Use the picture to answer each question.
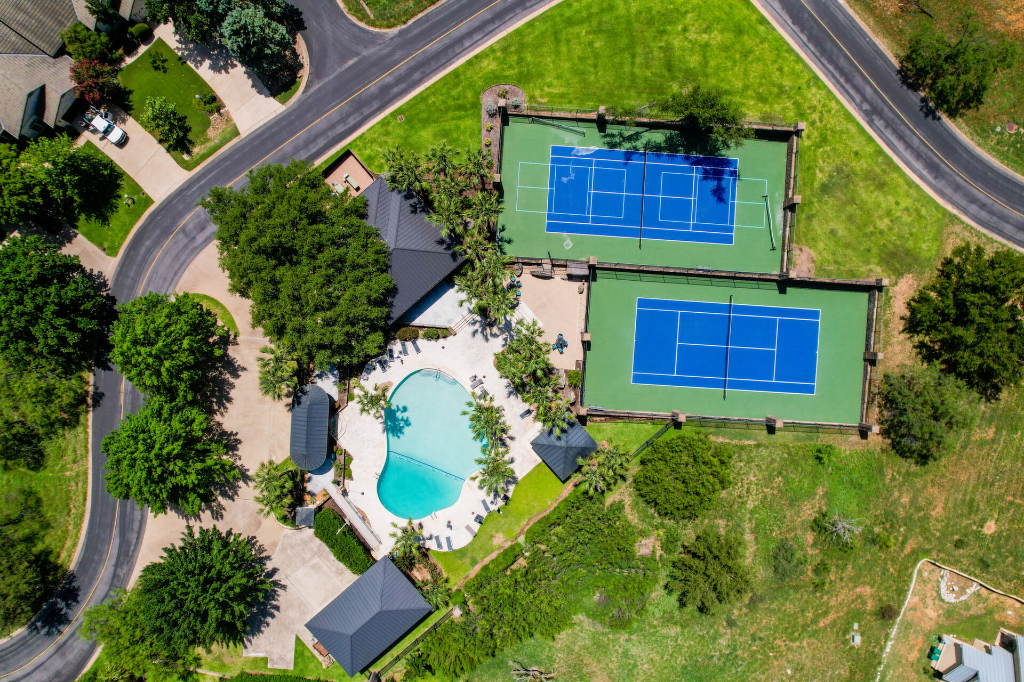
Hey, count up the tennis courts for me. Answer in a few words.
2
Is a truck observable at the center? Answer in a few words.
No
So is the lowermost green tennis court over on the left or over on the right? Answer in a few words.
right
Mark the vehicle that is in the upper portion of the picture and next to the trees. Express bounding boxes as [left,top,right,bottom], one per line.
[79,106,129,146]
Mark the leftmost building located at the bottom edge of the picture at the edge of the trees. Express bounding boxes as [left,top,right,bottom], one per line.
[305,555,433,678]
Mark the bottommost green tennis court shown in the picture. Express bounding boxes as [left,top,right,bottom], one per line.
[583,267,870,425]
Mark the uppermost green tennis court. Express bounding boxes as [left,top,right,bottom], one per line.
[498,114,788,275]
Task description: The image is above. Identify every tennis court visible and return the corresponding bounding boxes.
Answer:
[498,114,788,275]
[583,267,870,425]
